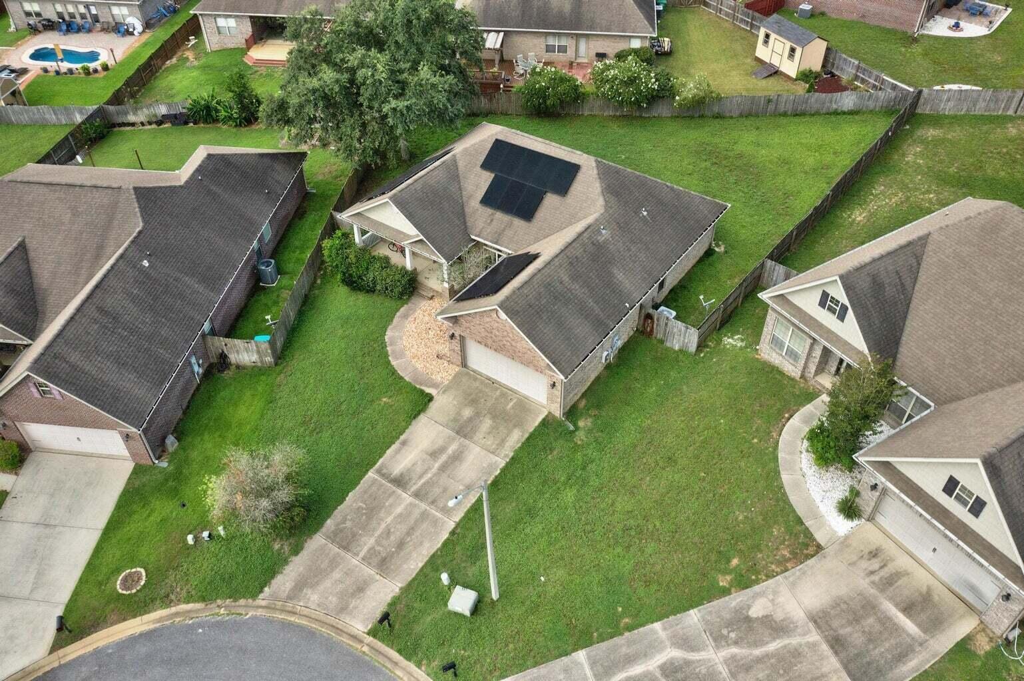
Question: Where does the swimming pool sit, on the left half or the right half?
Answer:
left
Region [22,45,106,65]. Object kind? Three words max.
swimming pool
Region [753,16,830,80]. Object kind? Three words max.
shed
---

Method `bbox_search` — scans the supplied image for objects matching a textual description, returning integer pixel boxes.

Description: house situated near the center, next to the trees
[339,122,733,429]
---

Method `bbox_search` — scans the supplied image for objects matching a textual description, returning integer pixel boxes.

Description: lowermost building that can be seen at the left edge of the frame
[0,146,313,468]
